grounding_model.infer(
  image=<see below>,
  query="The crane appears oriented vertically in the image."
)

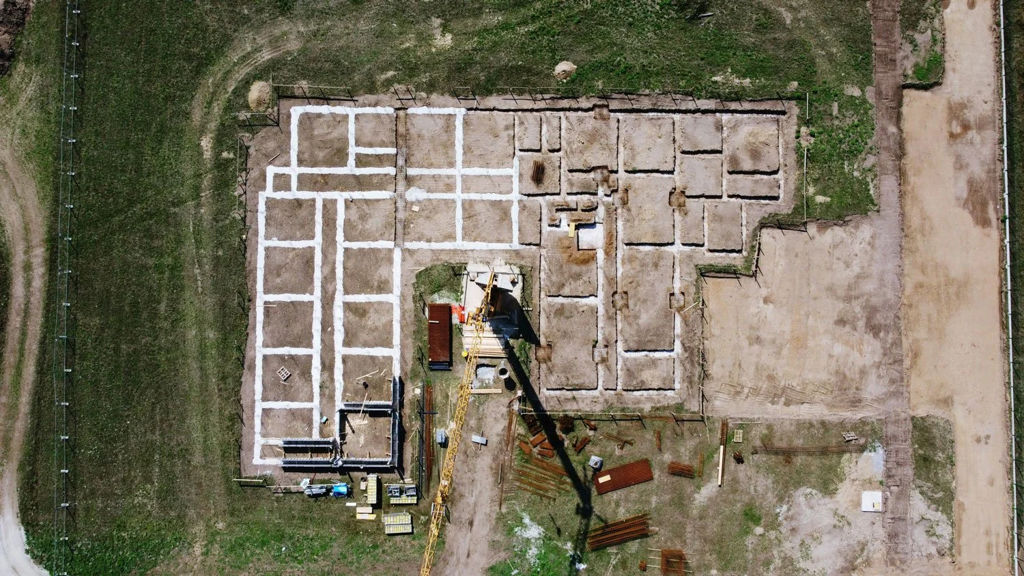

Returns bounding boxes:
[417,268,514,576]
